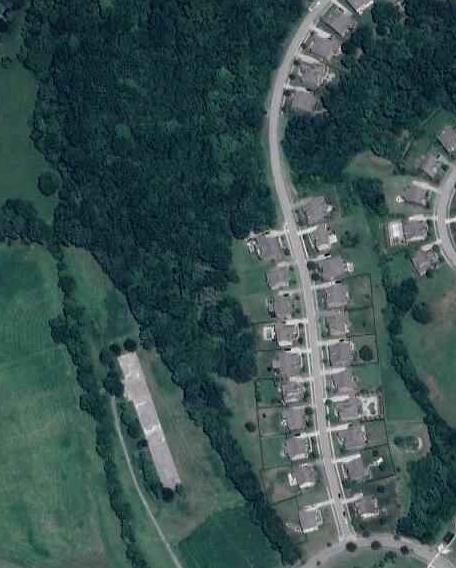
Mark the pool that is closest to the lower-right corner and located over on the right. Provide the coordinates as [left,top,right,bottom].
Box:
[363,398,379,420]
